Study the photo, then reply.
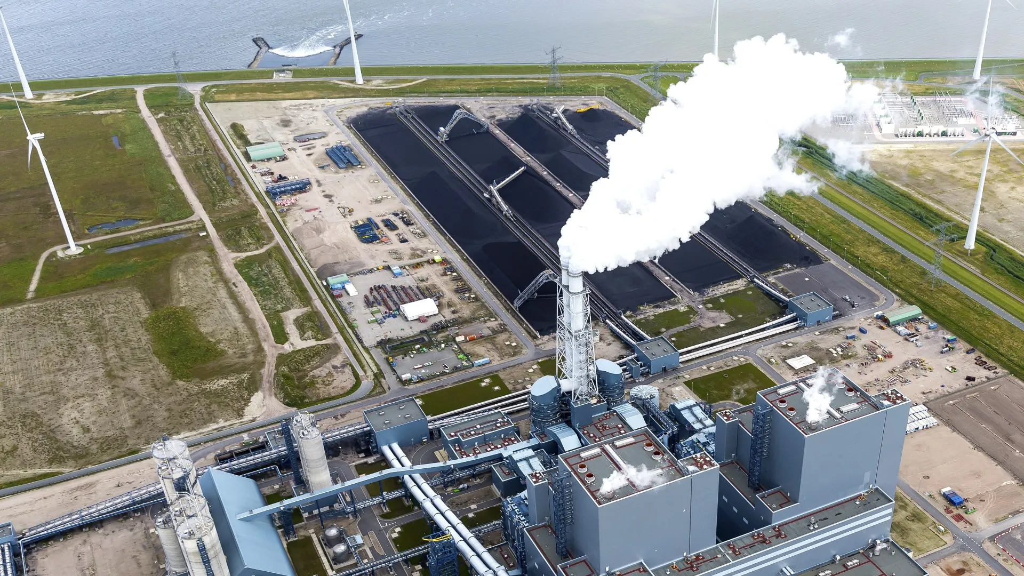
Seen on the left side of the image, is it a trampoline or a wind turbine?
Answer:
wind turbine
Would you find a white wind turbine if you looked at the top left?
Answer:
Yes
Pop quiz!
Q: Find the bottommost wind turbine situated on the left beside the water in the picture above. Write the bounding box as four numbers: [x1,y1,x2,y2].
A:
[15,81,82,253]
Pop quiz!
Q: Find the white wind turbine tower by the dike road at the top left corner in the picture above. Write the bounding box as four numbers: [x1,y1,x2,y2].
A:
[0,4,36,100]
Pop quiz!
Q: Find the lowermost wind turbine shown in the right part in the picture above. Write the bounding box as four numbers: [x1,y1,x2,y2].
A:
[947,79,1024,252]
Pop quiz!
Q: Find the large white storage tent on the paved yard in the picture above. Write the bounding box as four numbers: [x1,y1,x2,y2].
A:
[401,298,437,321]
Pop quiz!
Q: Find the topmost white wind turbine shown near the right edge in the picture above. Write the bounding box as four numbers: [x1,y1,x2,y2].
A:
[967,0,991,82]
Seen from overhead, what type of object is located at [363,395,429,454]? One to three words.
house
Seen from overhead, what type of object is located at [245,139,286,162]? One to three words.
shed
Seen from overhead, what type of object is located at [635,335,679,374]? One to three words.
house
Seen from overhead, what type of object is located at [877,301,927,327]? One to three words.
shed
